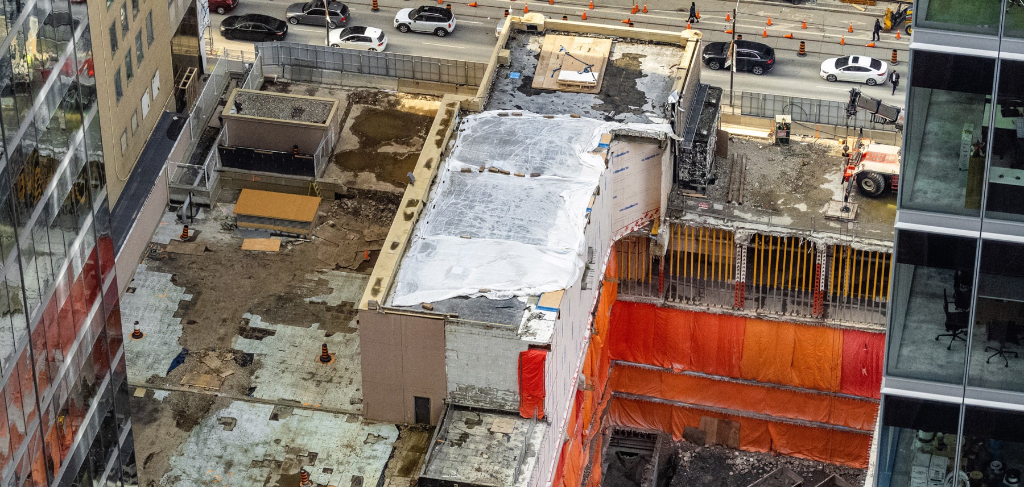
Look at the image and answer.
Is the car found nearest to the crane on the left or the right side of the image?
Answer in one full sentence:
The car found nearest to the crane appears in the right half of the scene.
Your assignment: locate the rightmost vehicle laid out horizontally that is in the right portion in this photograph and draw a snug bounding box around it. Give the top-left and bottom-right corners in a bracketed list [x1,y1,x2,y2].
[821,54,888,86]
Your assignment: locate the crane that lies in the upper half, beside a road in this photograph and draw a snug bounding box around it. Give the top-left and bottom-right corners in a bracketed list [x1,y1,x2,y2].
[841,73,917,212]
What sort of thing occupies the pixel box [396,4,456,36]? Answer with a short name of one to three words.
car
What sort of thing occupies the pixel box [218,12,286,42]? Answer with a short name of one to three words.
car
